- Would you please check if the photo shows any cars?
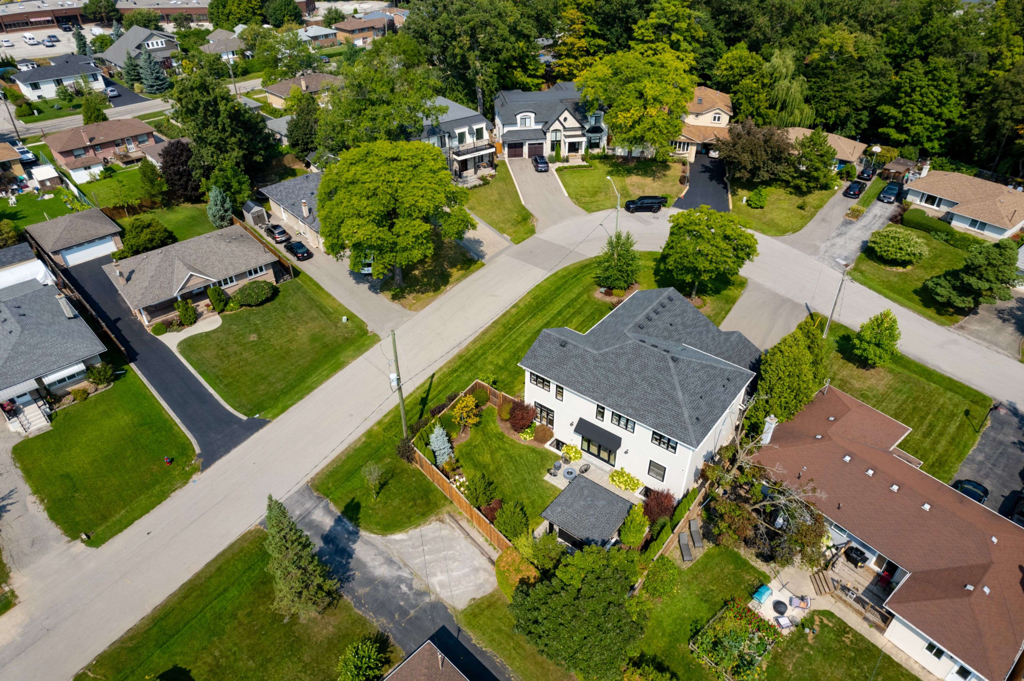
Yes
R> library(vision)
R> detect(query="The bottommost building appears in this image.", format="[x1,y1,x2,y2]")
[383,640,470,681]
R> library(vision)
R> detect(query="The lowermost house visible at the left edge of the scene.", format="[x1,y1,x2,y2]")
[0,287,109,432]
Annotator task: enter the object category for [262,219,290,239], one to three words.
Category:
car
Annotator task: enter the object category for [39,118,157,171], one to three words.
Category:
house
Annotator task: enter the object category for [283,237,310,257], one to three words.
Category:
car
